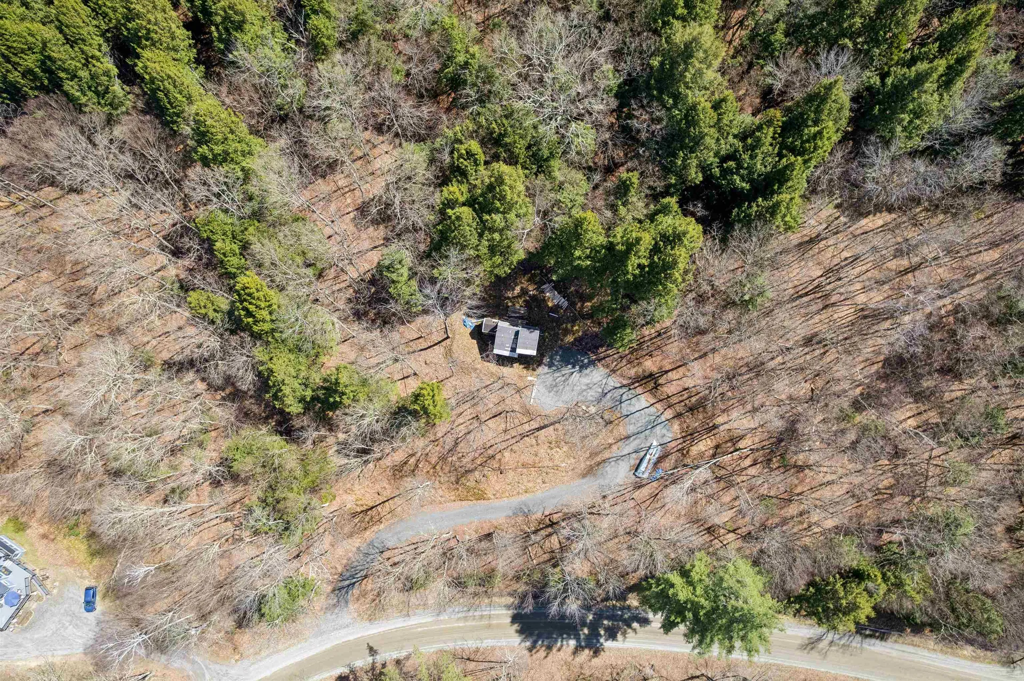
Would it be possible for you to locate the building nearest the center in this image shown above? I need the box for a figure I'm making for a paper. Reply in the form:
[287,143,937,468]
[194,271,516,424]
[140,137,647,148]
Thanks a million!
[478,315,540,356]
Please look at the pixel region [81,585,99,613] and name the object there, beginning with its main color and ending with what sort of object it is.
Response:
blue car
